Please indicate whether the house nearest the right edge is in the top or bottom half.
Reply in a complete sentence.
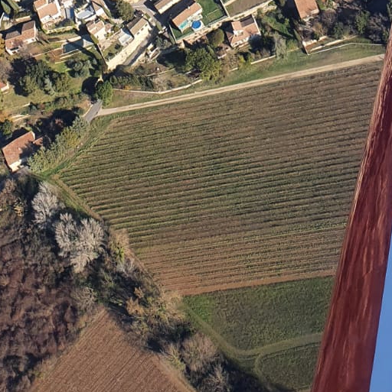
You can find the house nearest the right edge in the top half.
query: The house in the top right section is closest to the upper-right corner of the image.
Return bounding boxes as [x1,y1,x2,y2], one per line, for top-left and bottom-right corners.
[292,0,327,31]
